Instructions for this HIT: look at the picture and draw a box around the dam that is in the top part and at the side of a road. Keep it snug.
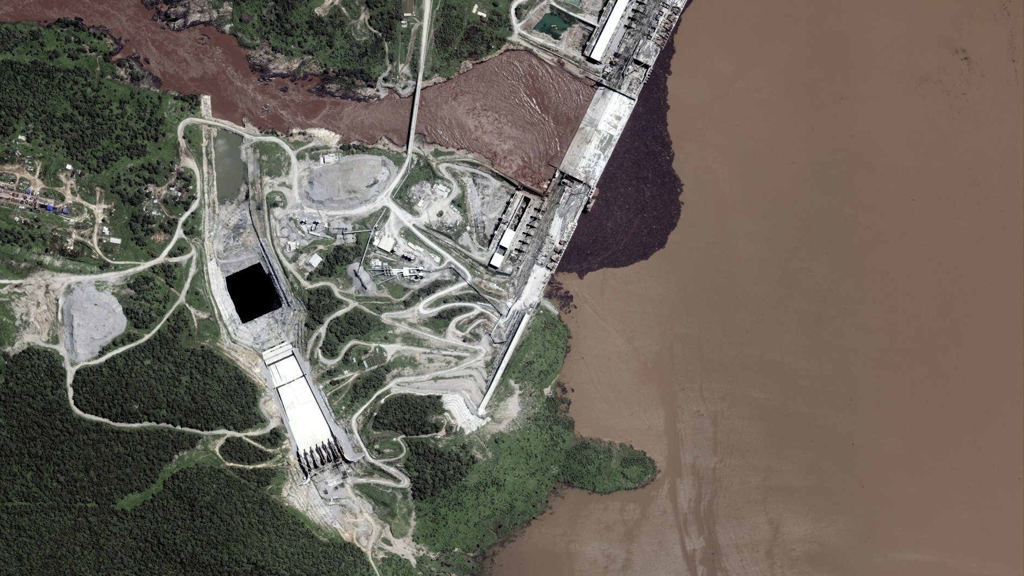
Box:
[475,0,689,415]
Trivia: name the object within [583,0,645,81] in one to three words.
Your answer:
building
